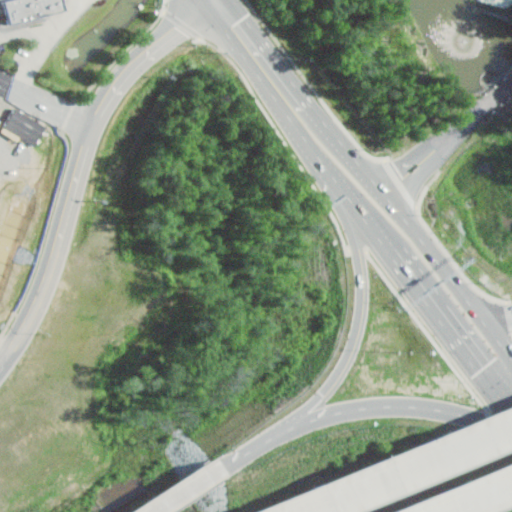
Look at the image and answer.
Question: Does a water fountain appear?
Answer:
Yes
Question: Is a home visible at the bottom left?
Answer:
No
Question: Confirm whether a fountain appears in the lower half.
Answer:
No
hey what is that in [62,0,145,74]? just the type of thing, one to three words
pond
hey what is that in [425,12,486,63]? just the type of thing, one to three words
fountain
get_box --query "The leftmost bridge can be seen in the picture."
[134,454,233,512]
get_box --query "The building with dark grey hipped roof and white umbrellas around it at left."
[4,108,45,146]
